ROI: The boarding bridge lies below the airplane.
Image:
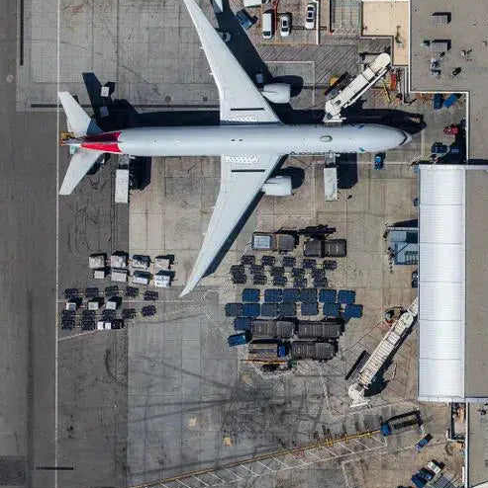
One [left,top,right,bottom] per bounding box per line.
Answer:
[345,296,418,410]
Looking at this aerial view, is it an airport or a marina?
airport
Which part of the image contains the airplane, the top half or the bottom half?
top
